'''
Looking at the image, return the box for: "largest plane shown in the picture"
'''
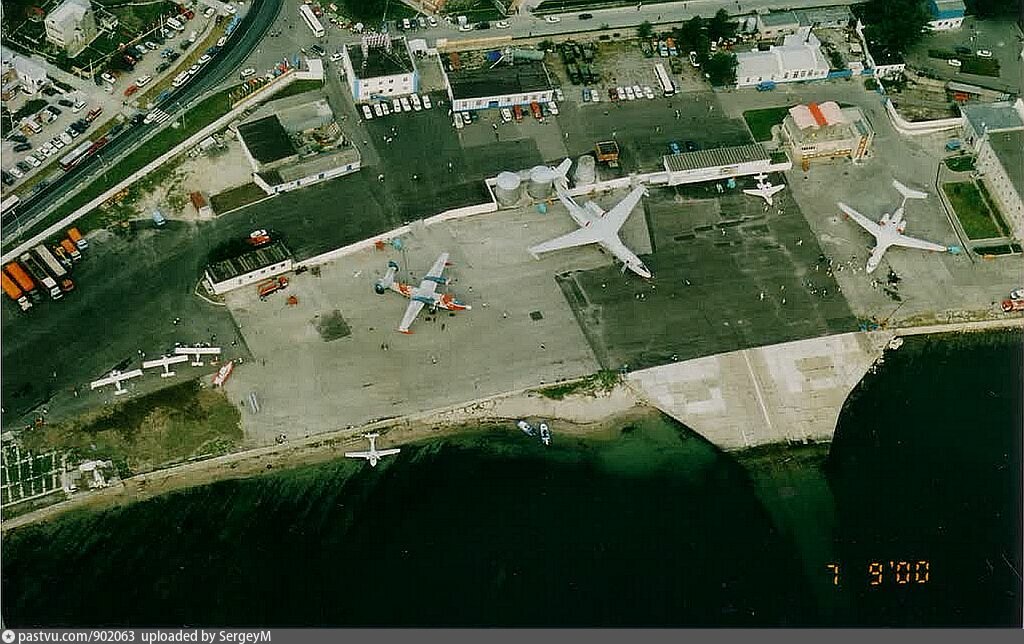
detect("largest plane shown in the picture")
[528,155,653,282]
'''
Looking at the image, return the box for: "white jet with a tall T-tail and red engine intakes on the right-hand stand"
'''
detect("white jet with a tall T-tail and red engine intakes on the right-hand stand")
[838,178,946,272]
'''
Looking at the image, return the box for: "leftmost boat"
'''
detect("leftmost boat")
[213,360,231,386]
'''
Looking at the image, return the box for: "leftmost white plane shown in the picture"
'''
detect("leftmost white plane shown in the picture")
[91,368,140,393]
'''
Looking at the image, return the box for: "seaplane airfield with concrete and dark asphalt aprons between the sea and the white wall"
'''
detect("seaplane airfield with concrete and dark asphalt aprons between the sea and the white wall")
[0,47,1024,444]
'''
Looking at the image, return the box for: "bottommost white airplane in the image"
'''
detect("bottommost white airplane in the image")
[345,434,400,470]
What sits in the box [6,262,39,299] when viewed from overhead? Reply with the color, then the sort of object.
orange truck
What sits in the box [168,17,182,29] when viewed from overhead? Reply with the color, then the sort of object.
white vehicle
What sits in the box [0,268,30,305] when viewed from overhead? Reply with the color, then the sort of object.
orange truck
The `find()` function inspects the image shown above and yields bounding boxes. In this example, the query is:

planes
[345,434,400,470]
[373,251,471,333]
[838,178,946,272]
[528,155,653,282]
[174,342,221,365]
[743,169,784,204]
[91,368,140,393]
[142,353,188,377]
